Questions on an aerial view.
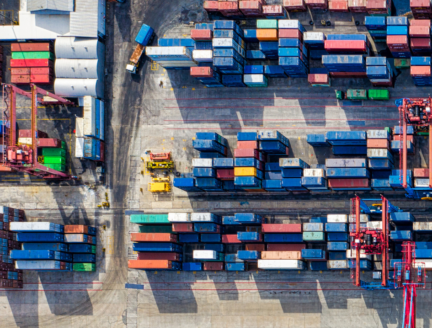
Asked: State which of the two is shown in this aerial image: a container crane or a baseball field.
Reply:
container crane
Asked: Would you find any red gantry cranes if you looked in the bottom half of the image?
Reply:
Yes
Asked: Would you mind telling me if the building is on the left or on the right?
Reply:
left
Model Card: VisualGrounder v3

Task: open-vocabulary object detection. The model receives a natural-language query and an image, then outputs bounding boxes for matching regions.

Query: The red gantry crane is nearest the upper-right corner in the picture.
[398,99,432,200]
